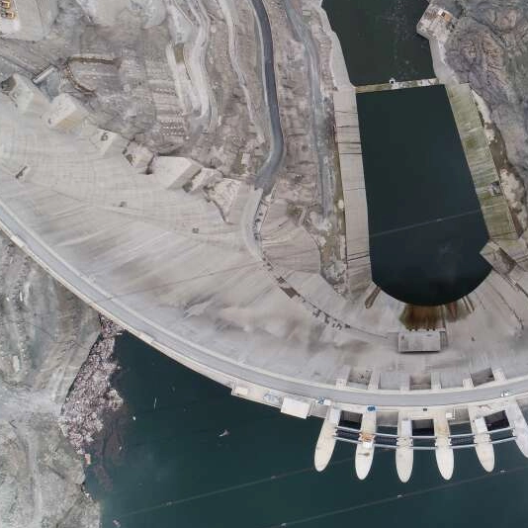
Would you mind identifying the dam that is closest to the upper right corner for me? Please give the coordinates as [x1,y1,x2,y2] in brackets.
[353,78,442,91]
